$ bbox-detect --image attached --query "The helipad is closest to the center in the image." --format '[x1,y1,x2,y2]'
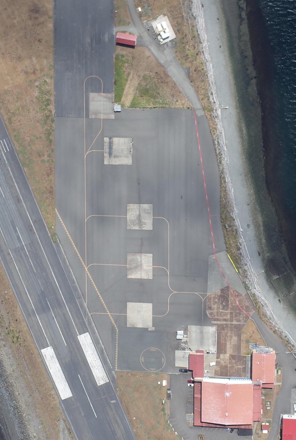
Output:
[127,204,153,230]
